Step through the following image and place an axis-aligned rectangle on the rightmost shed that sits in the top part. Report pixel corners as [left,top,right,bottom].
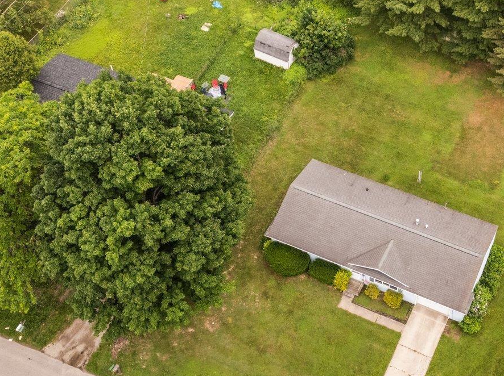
[254,28,298,65]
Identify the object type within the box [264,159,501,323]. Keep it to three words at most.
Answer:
house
